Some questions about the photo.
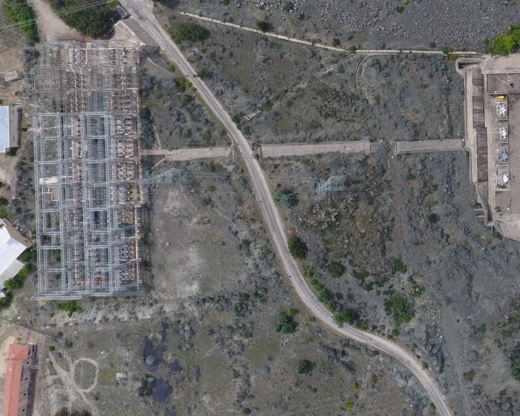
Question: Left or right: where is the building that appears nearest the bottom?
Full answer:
It is on the left.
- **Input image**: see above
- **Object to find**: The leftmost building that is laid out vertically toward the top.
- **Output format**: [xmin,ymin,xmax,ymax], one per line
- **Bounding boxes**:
[0,106,20,152]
